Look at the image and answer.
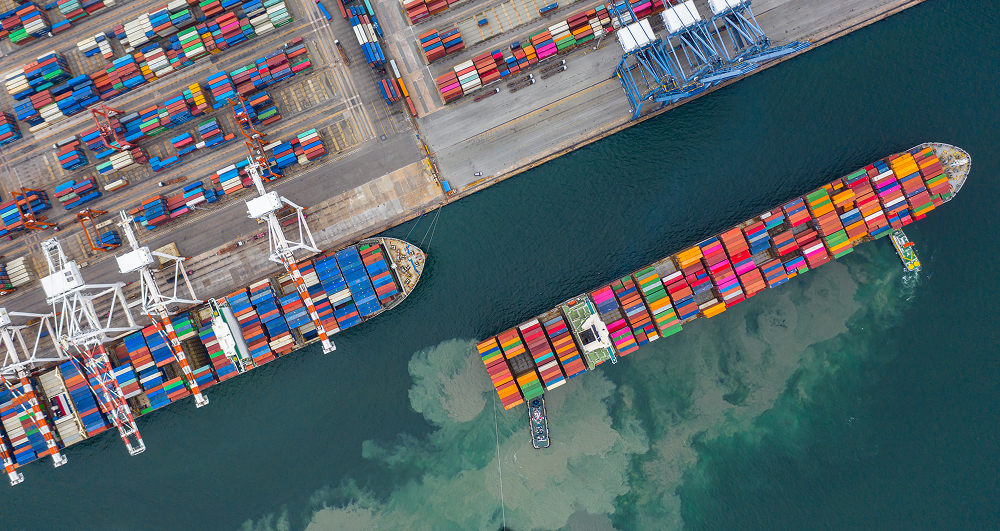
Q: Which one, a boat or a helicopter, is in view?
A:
boat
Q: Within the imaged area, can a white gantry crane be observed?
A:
Yes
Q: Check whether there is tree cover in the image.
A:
No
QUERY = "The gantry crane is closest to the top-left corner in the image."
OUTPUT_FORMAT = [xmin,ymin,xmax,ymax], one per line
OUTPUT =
[91,104,142,154]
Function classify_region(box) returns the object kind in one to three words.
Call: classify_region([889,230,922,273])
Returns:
boat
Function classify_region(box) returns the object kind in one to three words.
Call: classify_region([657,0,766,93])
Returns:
container crane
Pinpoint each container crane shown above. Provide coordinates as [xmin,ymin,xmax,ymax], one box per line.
[0,290,75,471]
[228,94,272,143]
[11,187,64,230]
[657,0,766,93]
[91,104,142,154]
[37,233,150,460]
[112,206,210,412]
[694,0,819,86]
[240,152,337,357]
[75,211,126,253]
[245,137,287,184]
[609,0,713,121]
